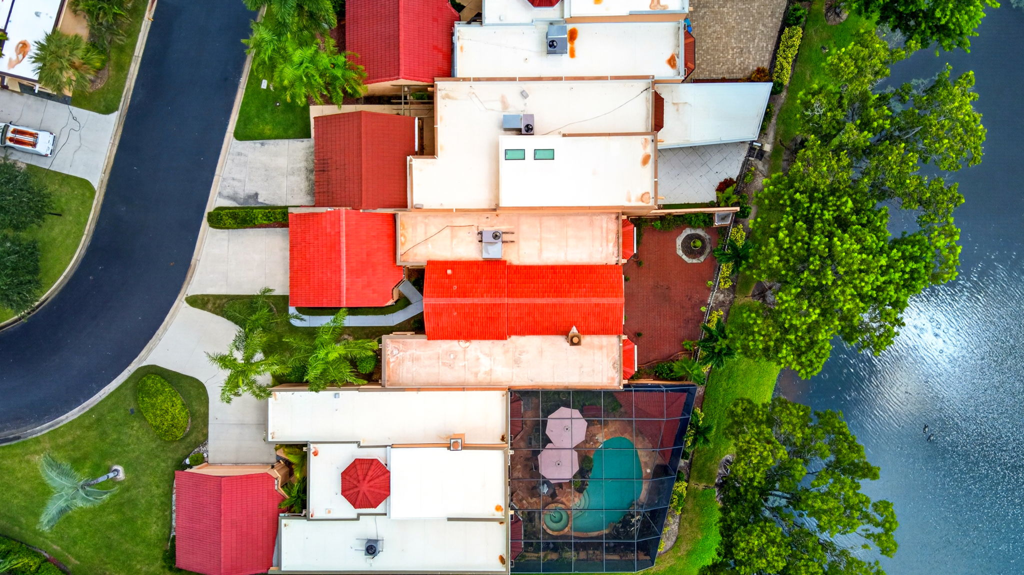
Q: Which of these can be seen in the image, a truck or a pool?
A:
pool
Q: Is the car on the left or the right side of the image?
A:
left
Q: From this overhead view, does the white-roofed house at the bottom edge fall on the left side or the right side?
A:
left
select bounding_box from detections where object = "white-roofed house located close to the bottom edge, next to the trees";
[174,383,525,575]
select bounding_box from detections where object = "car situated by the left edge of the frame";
[0,120,57,157]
